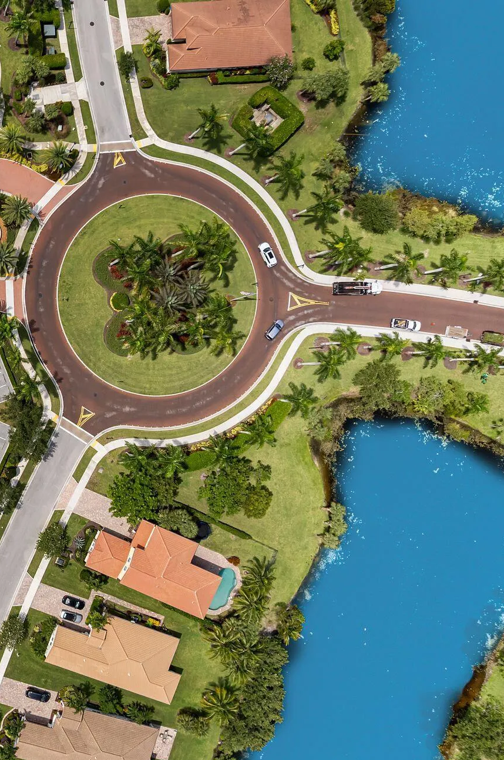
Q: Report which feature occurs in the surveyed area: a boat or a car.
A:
car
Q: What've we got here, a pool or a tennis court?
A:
pool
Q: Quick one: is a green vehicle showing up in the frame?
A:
No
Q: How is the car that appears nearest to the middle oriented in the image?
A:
on a diagonal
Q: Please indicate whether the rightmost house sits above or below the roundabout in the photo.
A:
above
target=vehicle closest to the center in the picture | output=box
[263,318,283,341]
